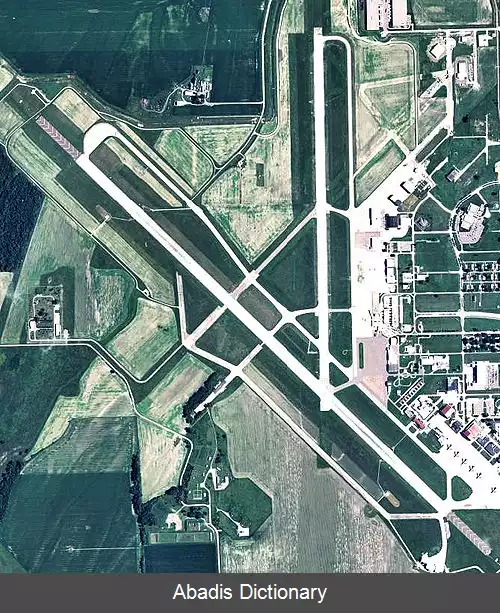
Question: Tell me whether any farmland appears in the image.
Yes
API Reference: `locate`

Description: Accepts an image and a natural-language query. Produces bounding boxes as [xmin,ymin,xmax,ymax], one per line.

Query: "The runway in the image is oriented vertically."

[314,27,331,411]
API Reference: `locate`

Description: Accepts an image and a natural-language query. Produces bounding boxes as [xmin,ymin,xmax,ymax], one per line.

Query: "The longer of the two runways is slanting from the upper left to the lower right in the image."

[35,115,493,559]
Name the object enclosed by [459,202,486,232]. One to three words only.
building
